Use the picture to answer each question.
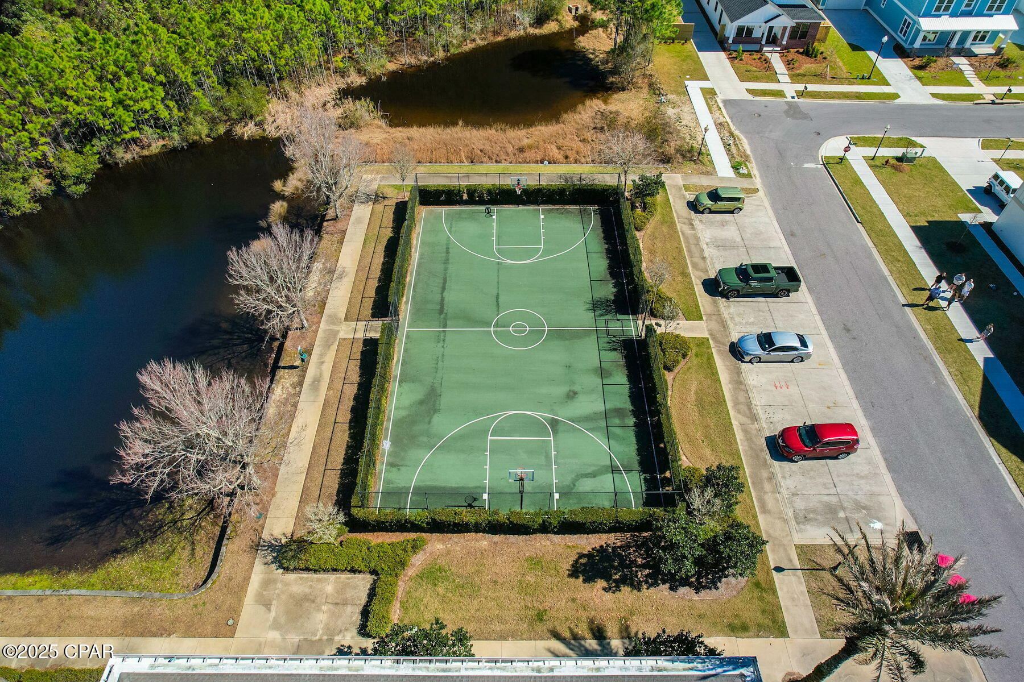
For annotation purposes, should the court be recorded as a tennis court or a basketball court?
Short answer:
basketball court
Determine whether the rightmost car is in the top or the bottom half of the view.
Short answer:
top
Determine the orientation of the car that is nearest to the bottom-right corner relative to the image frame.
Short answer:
from side to side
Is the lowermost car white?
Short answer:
No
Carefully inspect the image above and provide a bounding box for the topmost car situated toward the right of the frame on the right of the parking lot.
[988,172,1024,209]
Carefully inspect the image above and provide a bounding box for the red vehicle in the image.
[775,420,865,461]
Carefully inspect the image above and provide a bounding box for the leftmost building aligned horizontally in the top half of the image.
[705,0,827,52]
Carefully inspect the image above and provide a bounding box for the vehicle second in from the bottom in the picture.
[736,329,817,362]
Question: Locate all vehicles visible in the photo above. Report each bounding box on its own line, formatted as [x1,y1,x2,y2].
[988,172,1024,209]
[694,188,748,215]
[736,329,817,362]
[716,266,806,302]
[775,420,865,461]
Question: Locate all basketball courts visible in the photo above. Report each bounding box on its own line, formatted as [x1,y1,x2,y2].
[370,204,671,512]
